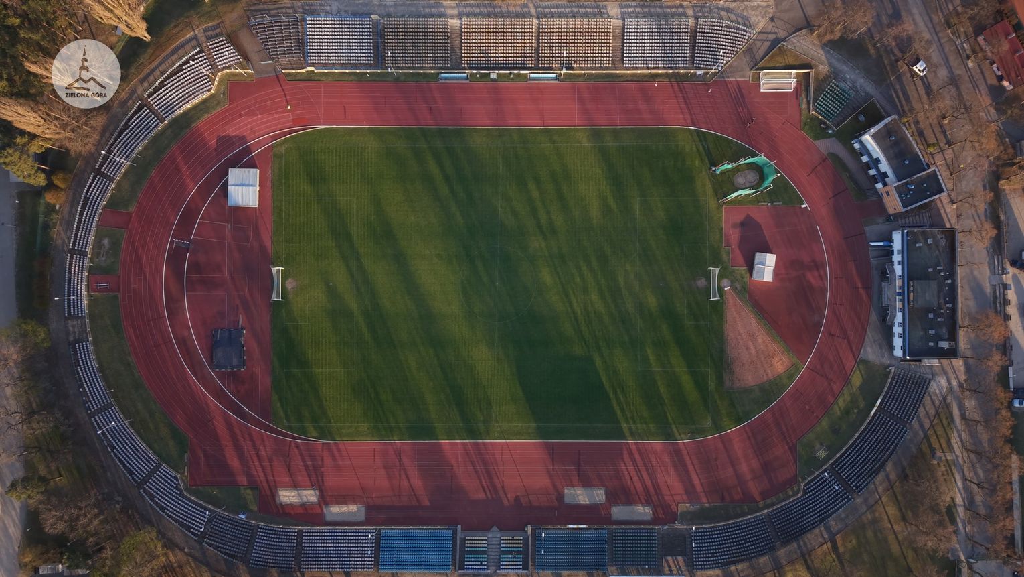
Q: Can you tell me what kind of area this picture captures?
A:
sports ground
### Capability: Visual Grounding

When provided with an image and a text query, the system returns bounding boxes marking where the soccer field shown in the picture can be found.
[272,128,804,440]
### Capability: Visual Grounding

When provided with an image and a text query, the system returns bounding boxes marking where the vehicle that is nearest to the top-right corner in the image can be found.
[910,59,929,78]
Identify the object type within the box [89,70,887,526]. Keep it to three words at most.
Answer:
running track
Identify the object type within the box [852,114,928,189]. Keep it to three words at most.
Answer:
building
